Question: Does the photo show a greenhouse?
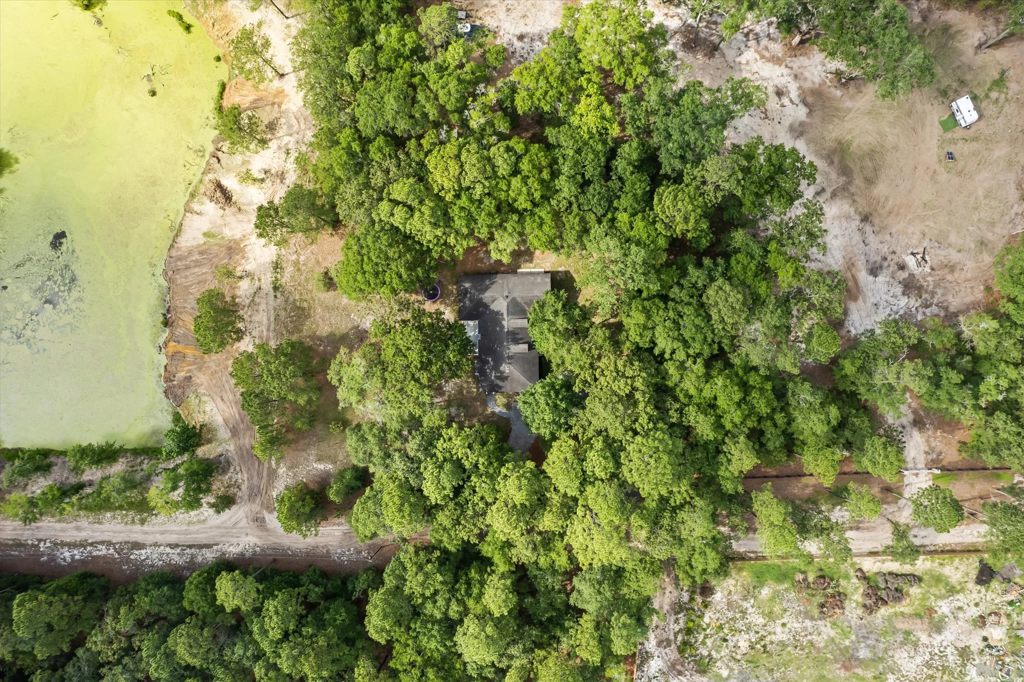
No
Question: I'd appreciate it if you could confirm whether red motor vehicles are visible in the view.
No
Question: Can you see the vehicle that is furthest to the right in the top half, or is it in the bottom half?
top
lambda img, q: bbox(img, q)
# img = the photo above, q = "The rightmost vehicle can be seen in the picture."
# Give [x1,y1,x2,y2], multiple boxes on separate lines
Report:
[949,96,977,132]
